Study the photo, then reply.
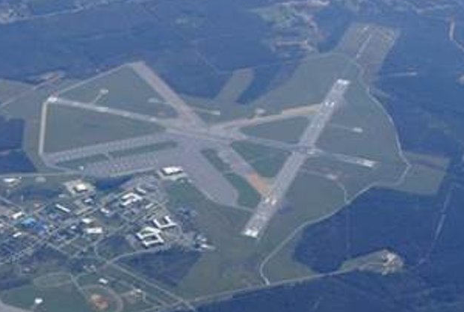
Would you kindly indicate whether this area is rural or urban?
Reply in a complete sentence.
It looks rural.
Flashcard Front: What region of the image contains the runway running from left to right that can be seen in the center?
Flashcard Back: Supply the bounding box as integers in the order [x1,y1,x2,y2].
[46,97,381,166]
